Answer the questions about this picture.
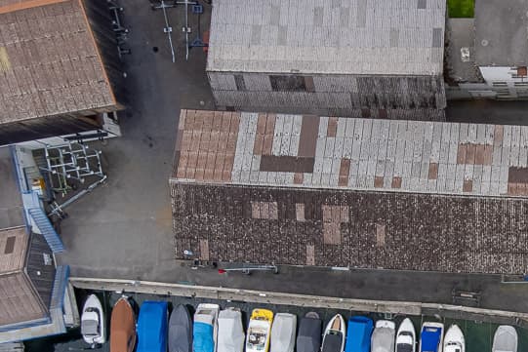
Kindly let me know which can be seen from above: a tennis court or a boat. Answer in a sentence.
The one in the frame is a boat.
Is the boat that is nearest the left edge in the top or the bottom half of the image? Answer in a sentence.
The boat that is nearest the left edge is in the bottom half of the image.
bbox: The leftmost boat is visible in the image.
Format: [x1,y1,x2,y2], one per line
[81,294,109,350]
